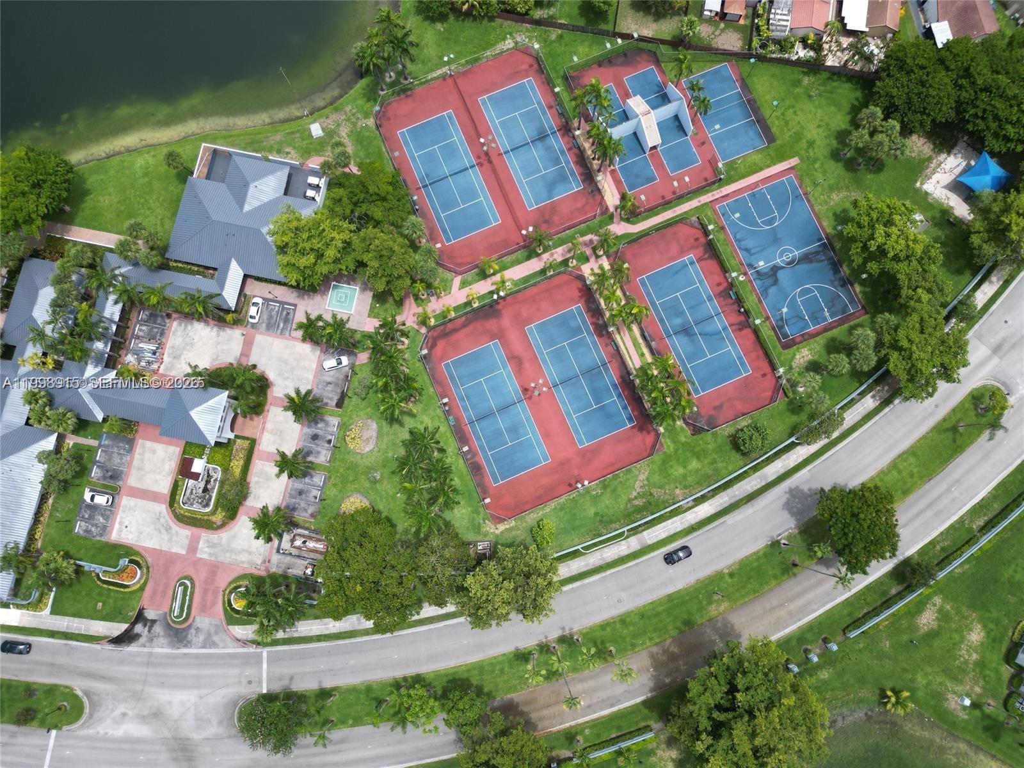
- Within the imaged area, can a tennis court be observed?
Yes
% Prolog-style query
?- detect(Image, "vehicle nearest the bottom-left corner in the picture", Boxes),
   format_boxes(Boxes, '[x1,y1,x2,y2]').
[2,639,30,654]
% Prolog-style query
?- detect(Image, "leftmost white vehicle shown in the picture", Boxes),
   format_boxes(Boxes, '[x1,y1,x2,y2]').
[86,491,112,505]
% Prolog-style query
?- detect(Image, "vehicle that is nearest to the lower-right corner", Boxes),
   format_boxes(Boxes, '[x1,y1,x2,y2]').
[663,545,692,564]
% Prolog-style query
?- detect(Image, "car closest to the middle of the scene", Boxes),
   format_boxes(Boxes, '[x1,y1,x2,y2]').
[322,356,349,371]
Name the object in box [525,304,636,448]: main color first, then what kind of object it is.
blue tennis court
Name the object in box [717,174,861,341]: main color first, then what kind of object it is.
blue basketball court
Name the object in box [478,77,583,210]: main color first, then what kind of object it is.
blue tennis court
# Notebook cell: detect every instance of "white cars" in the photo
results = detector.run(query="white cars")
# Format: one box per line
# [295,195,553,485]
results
[249,299,264,324]
[86,491,112,505]
[322,356,349,371]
